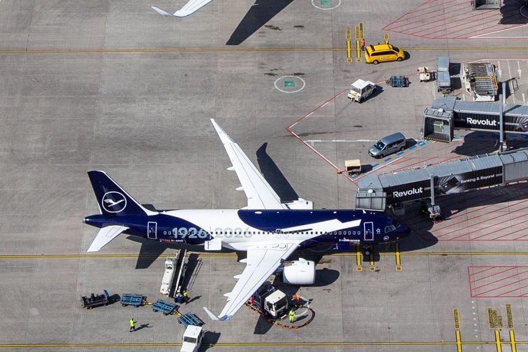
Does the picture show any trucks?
Yes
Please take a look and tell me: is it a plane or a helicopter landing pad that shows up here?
plane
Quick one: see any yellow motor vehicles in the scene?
Yes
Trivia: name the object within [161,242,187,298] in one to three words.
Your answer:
work vehicle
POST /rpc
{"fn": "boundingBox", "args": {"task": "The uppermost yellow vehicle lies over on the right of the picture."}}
[364,41,404,63]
